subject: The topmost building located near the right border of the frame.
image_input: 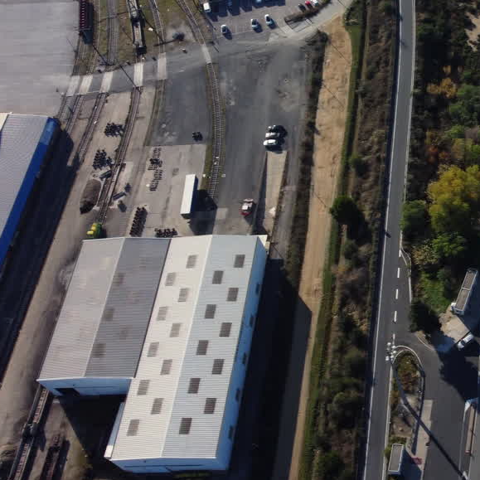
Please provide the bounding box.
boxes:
[454,269,478,319]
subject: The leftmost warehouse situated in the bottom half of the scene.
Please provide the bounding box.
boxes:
[35,234,170,395]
